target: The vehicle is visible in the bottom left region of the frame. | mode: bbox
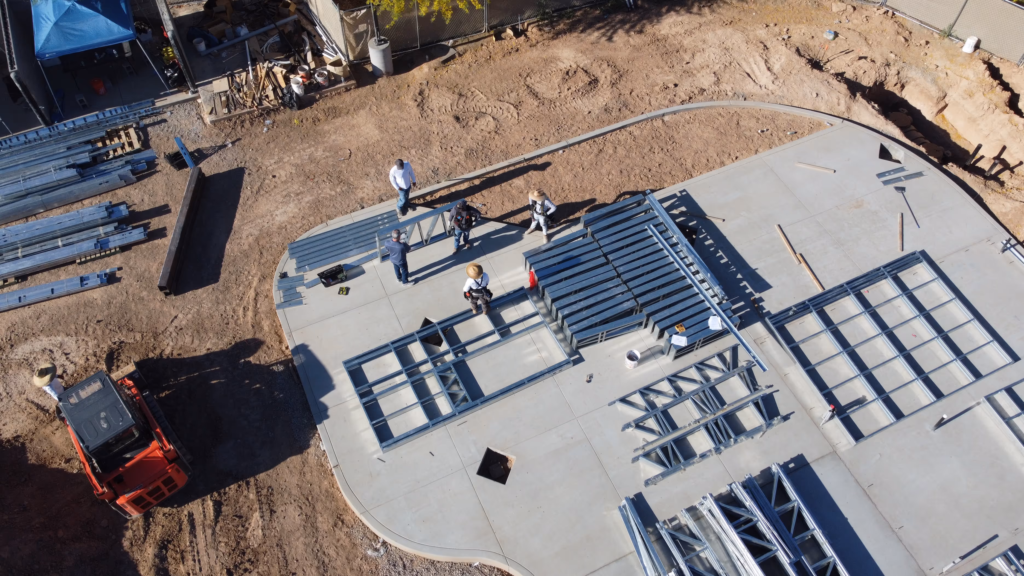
[59,374,206,525]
